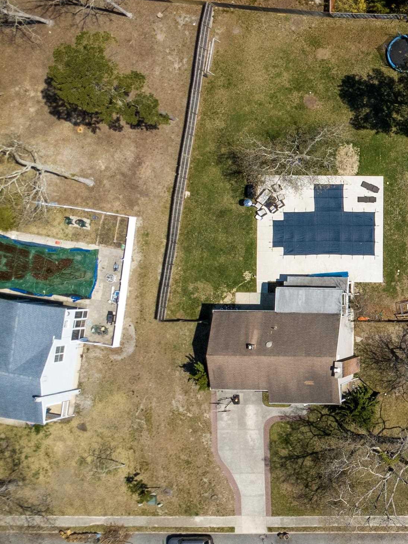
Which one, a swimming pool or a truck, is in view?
swimming pool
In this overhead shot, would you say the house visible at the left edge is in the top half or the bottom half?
bottom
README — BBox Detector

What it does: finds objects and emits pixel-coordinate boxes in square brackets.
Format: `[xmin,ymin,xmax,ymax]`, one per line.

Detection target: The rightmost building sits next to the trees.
[206,276,369,405]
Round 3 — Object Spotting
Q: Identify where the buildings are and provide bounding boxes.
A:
[206,276,369,405]
[0,286,89,431]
